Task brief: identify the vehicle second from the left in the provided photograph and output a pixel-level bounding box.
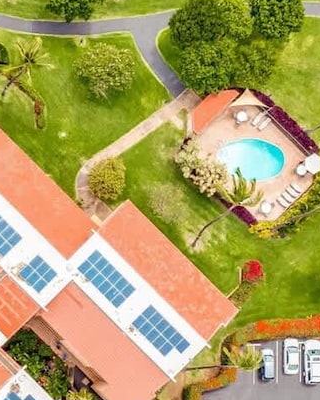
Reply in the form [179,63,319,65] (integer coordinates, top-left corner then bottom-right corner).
[280,337,300,374]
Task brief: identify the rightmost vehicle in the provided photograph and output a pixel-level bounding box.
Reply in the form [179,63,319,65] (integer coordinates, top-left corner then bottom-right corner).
[301,341,320,383]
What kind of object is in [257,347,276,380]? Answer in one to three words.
car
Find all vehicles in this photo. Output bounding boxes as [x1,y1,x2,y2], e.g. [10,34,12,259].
[257,347,276,380]
[280,337,300,374]
[301,341,320,383]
